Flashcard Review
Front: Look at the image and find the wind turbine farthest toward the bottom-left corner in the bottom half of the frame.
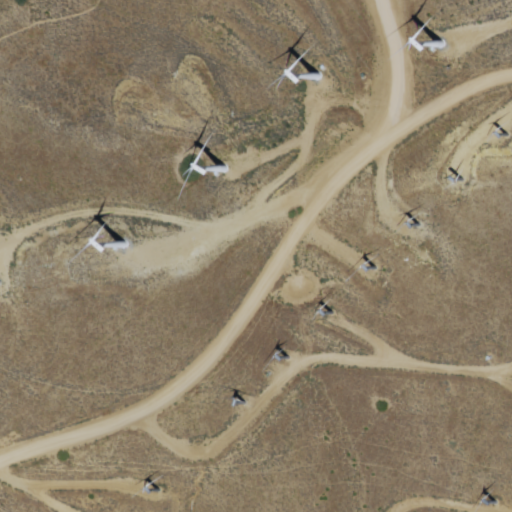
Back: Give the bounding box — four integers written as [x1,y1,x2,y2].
[134,476,161,502]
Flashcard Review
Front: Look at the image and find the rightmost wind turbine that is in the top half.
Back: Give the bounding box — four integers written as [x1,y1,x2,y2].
[486,118,510,145]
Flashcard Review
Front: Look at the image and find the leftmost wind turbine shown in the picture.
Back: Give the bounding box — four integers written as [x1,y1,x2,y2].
[65,216,132,270]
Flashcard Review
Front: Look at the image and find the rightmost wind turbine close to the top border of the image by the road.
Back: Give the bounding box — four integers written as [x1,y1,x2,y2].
[392,4,448,52]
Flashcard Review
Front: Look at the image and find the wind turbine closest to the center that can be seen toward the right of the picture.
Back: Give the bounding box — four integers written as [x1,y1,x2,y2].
[308,292,335,320]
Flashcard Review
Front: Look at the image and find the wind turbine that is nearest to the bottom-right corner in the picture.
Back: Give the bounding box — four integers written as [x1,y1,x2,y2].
[477,484,499,512]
